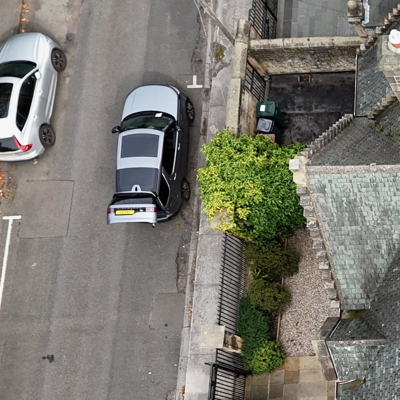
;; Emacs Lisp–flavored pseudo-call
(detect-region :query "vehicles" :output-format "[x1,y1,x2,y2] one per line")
[0,33,66,164]
[99,85,198,233]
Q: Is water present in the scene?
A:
No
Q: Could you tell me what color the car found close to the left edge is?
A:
white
